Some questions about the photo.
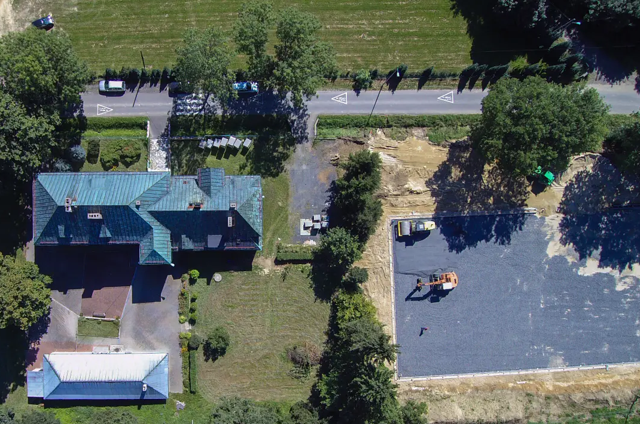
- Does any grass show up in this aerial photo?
Yes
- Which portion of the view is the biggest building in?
left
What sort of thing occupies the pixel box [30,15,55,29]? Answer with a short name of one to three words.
car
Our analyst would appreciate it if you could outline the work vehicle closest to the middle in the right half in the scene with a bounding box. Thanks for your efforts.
[401,220,434,235]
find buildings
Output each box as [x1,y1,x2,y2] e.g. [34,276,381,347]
[28,345,169,401]
[34,168,265,266]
